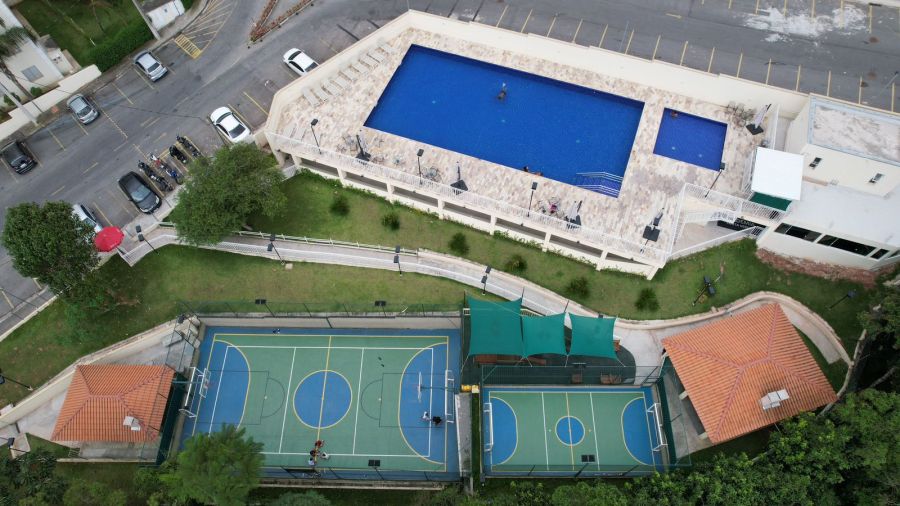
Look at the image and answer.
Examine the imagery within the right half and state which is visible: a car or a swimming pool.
swimming pool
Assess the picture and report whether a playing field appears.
Yes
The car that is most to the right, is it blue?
No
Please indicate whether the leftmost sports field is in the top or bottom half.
bottom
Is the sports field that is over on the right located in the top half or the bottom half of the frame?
bottom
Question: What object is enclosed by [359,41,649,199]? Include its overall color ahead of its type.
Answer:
blue swimming pool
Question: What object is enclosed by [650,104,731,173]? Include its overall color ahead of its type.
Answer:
blue swimming pool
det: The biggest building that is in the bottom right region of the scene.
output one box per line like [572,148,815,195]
[658,302,840,445]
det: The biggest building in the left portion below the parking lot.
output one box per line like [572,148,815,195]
[49,363,182,446]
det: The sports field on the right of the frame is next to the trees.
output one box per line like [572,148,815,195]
[490,392,655,471]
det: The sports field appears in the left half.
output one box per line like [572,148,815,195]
[214,335,447,470]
